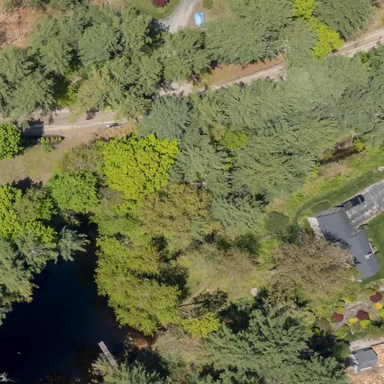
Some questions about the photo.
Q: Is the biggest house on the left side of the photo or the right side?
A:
right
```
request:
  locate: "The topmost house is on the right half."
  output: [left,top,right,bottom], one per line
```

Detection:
[312,205,379,280]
